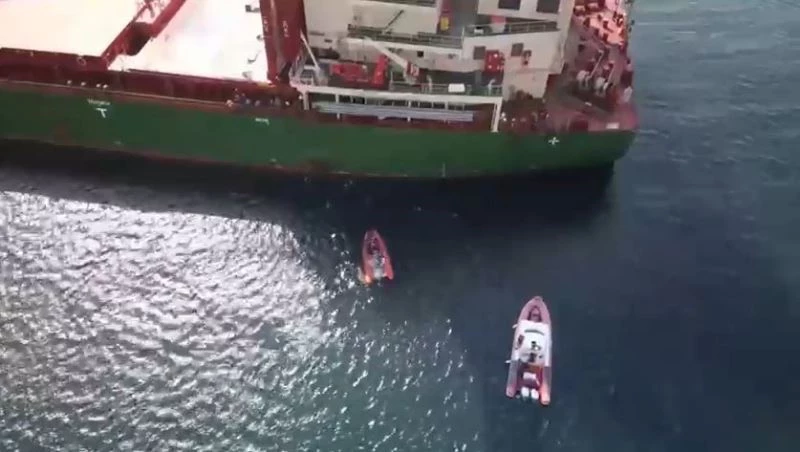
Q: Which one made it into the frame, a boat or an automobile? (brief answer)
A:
boat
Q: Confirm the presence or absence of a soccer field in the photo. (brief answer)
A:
No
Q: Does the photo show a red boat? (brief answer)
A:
Yes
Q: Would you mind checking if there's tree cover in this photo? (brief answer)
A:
No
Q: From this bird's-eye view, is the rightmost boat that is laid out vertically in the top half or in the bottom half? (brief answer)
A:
bottom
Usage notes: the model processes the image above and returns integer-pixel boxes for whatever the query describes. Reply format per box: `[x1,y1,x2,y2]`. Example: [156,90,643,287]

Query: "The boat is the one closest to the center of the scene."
[362,229,393,283]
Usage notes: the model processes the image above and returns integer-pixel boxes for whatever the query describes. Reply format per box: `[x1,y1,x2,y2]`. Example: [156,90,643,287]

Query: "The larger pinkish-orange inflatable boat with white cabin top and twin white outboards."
[505,297,552,407]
